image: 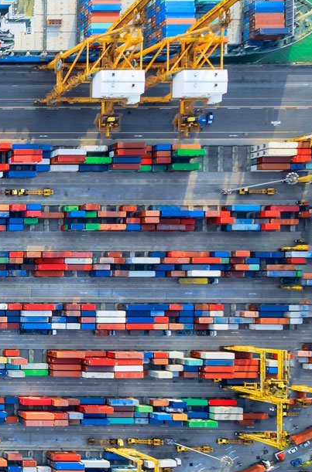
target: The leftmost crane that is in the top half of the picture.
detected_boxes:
[41,0,148,146]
